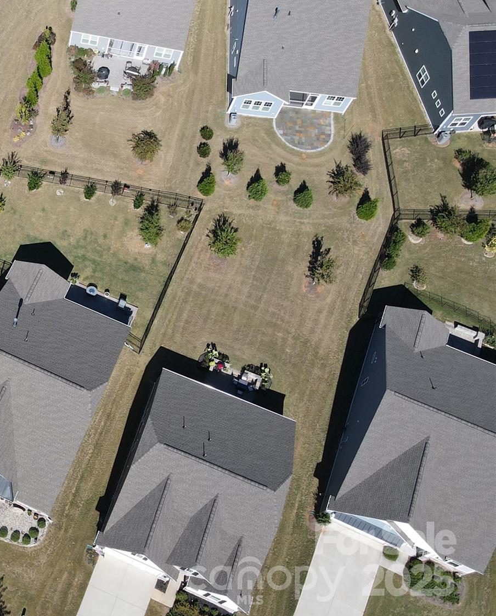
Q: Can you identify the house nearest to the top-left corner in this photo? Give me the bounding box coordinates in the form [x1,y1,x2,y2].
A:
[69,0,194,68]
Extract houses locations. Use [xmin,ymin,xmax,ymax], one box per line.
[69,0,194,68]
[90,367,296,615]
[223,0,370,121]
[0,260,132,520]
[391,0,496,129]
[318,305,496,585]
